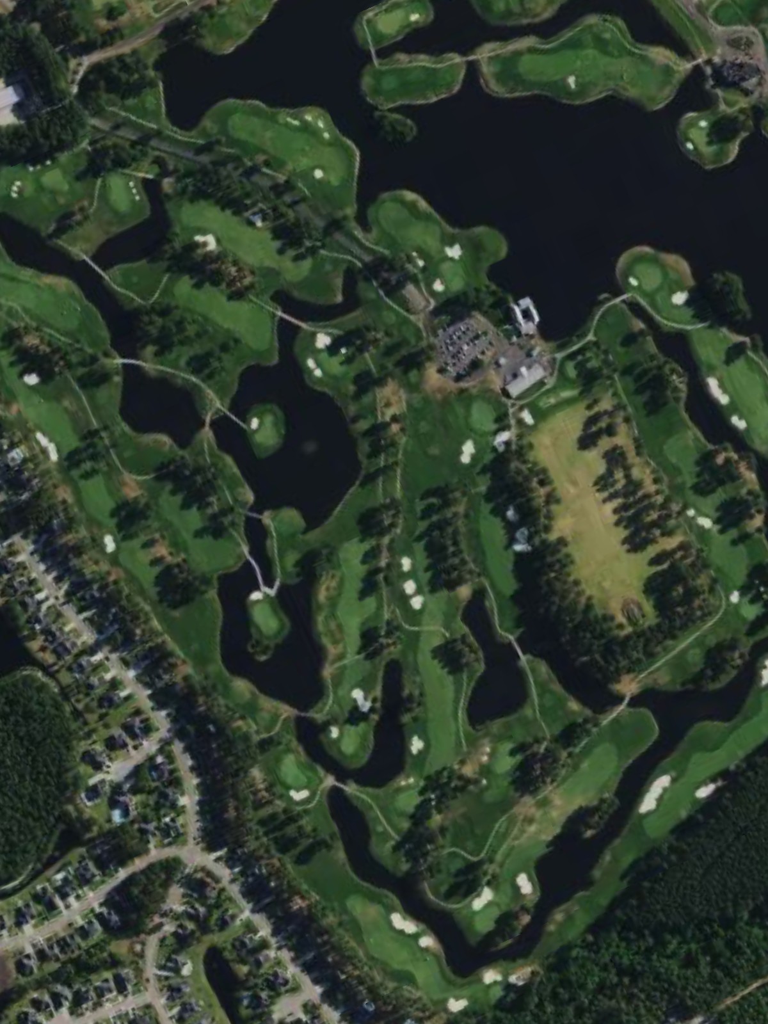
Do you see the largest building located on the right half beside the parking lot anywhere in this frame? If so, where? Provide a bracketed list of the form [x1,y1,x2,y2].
[501,359,547,397]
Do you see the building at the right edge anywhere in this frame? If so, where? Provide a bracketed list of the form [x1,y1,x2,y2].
[713,59,763,91]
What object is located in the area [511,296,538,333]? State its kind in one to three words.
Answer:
building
